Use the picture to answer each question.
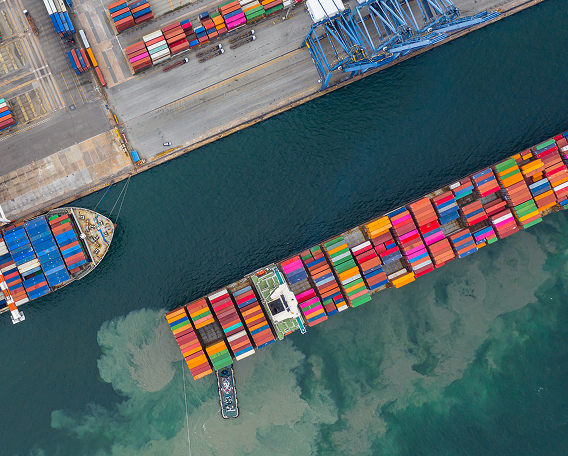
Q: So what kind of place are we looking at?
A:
port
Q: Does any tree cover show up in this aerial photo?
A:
No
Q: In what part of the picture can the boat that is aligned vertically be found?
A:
bottom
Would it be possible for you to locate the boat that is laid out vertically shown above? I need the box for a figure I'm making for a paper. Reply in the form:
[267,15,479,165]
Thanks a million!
[217,361,240,420]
